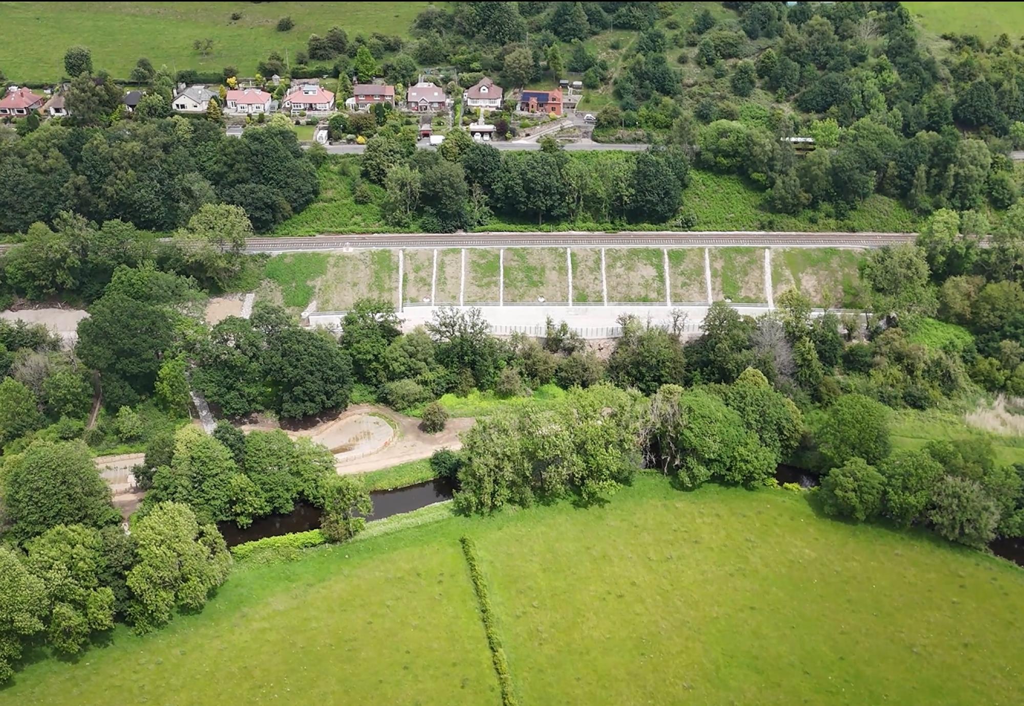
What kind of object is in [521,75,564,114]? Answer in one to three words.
house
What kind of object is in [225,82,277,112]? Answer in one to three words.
house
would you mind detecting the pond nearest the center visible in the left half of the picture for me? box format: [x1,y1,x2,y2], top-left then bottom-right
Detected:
[307,413,393,461]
